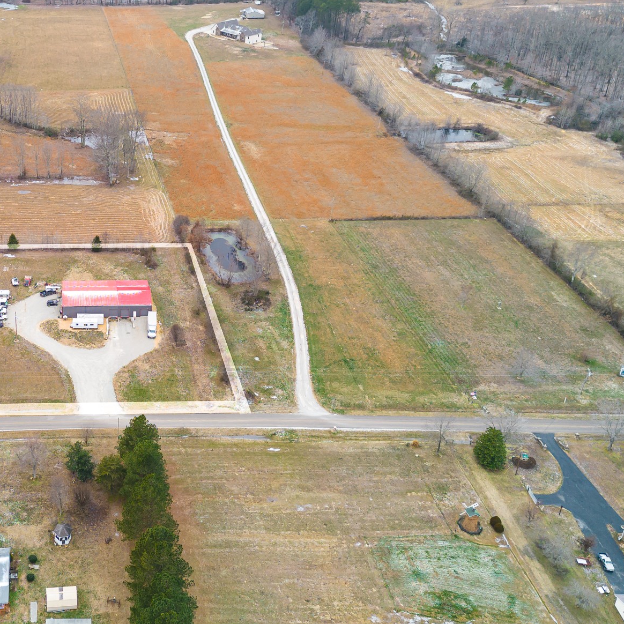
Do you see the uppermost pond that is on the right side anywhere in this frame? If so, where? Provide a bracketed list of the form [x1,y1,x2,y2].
[432,53,558,106]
